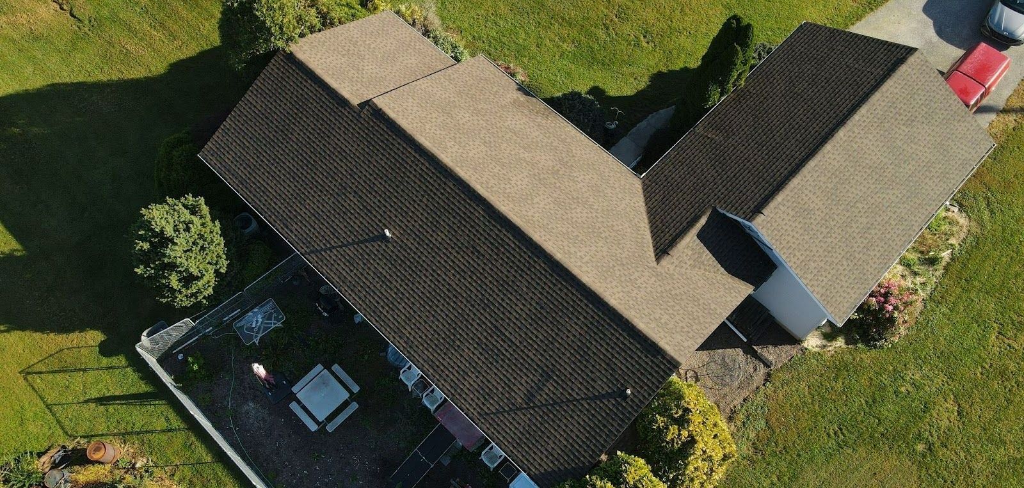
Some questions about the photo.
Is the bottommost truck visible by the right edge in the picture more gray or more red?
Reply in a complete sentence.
In this view, the bottommost truck visible by the right edge is red.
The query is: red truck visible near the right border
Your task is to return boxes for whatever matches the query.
[942,43,1010,118]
